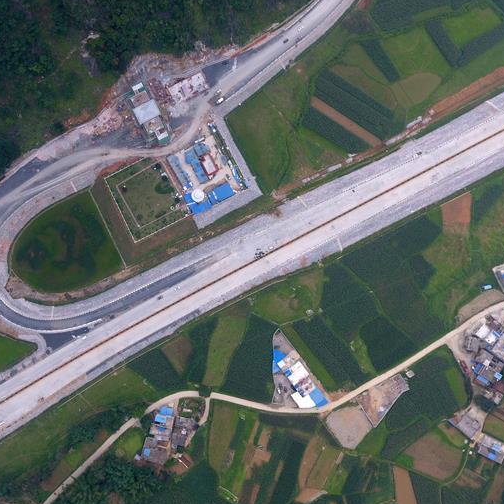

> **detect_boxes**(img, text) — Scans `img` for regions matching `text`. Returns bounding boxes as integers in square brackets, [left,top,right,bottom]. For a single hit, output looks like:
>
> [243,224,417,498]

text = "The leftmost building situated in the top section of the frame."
[129,82,171,148]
